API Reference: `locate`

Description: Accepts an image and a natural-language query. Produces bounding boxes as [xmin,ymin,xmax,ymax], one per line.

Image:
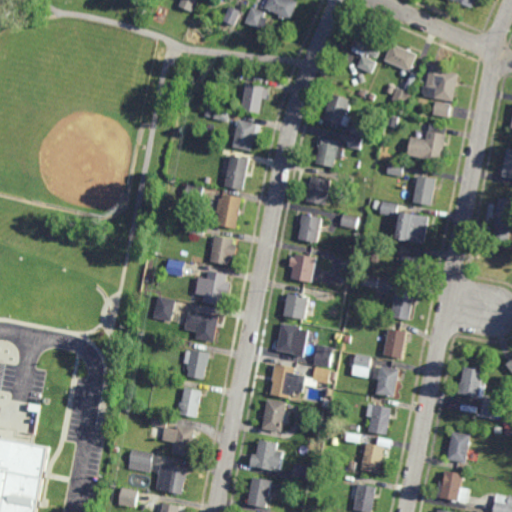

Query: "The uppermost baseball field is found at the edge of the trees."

[0,22,153,213]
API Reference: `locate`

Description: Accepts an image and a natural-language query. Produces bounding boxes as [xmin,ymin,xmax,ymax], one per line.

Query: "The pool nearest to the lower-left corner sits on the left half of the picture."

[129,474,151,488]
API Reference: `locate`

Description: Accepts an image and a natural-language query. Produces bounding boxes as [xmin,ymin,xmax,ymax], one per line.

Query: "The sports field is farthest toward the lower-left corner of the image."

[0,247,102,329]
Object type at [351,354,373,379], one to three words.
building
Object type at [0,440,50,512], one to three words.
building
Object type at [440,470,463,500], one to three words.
house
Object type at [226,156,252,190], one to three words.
house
